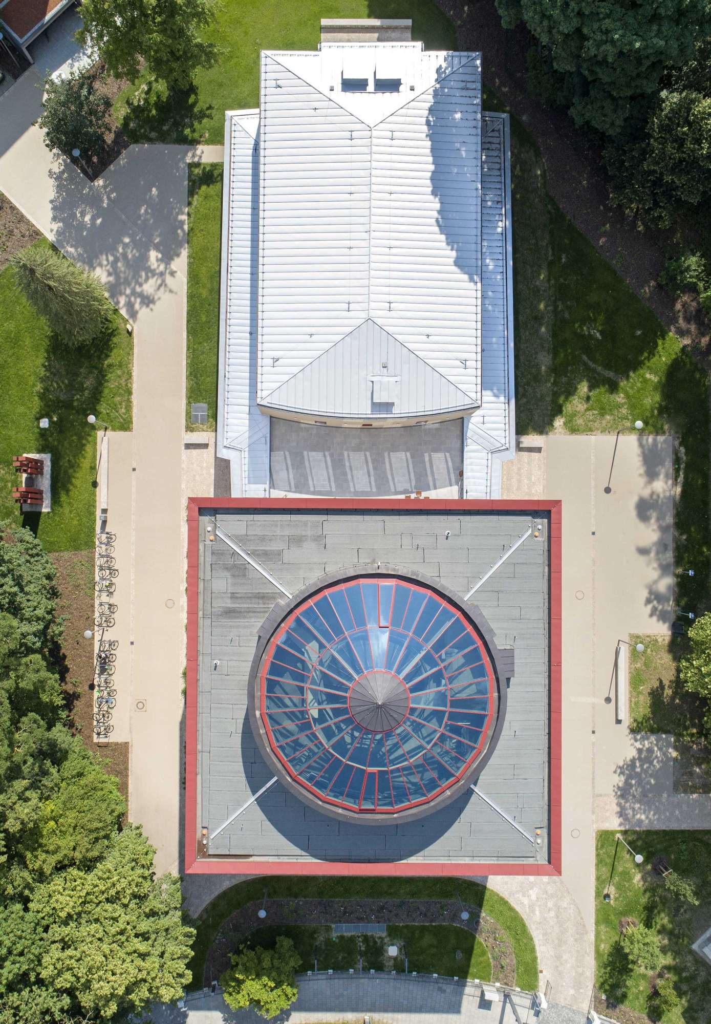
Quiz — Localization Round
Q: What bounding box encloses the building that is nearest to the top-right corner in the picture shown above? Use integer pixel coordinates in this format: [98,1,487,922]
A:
[217,42,514,500]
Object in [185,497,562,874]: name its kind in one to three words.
building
